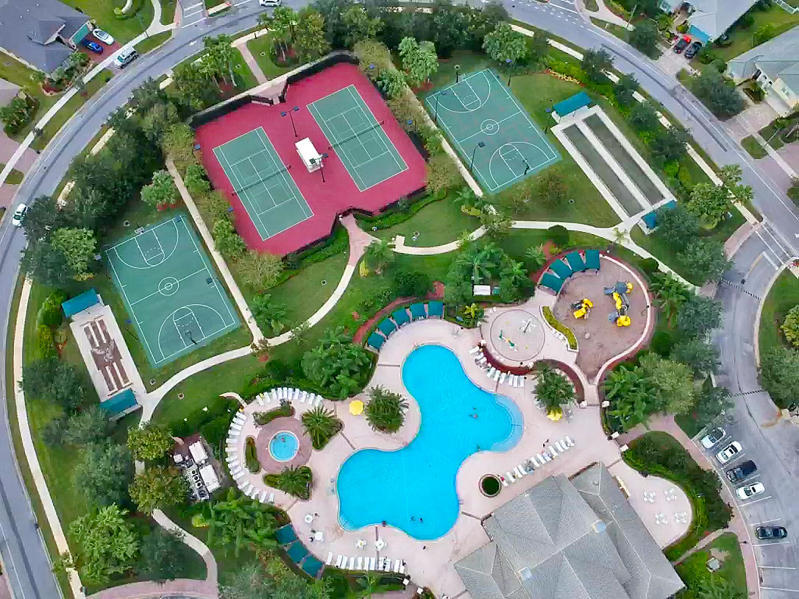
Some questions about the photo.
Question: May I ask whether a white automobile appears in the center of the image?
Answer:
No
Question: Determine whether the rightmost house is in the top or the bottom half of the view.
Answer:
top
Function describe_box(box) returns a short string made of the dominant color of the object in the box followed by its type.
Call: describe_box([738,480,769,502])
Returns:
white car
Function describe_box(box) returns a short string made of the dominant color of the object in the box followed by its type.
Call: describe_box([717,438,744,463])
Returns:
white car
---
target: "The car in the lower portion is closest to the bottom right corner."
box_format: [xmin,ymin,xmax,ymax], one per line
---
[758,525,790,539]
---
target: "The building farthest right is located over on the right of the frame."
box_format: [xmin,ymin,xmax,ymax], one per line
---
[725,25,799,108]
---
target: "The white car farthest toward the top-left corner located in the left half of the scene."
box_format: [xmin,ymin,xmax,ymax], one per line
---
[92,27,112,43]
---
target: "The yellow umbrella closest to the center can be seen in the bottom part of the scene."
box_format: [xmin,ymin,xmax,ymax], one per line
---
[348,399,364,415]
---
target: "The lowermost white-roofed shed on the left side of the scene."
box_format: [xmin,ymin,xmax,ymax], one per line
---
[201,465,222,492]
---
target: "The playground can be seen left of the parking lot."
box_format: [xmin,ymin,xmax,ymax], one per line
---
[543,253,652,382]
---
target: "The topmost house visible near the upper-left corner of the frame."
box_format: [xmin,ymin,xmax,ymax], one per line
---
[0,0,92,76]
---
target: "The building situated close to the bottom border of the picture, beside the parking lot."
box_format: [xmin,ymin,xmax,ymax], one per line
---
[454,463,686,599]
